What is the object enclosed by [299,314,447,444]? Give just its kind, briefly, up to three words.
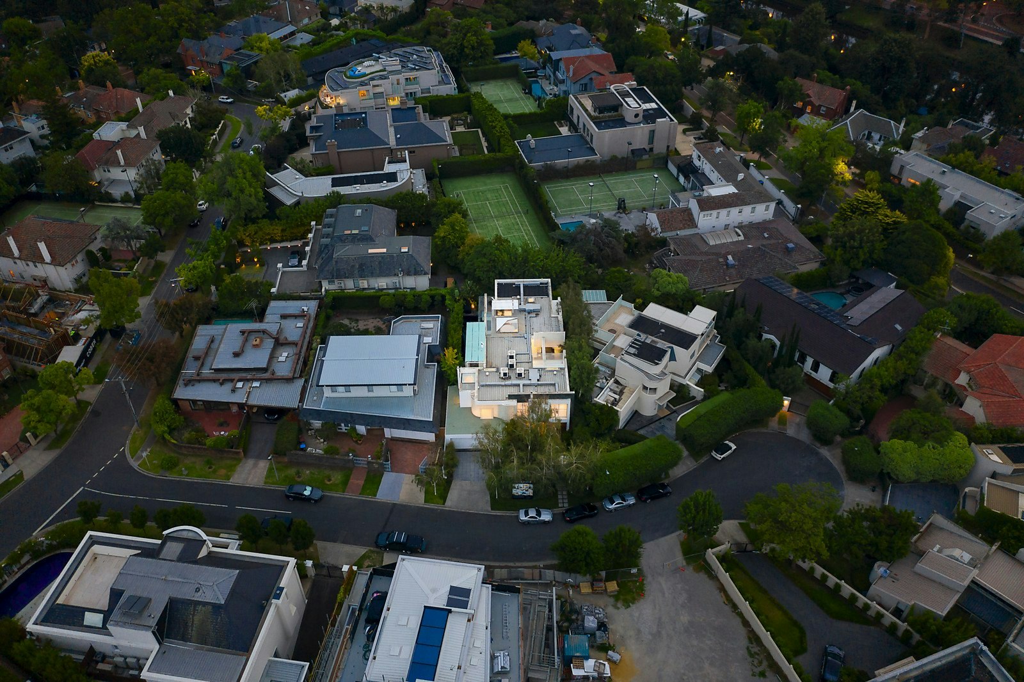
house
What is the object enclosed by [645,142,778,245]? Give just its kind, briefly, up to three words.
house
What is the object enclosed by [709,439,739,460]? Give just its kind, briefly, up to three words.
car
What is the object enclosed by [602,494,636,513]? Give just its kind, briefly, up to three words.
car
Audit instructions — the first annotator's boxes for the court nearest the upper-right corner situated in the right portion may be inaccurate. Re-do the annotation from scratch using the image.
[548,165,688,218]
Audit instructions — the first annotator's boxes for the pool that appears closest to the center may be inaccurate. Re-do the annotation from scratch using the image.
[569,218,589,237]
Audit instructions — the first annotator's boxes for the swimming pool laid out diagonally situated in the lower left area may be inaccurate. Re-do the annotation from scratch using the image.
[0,547,76,623]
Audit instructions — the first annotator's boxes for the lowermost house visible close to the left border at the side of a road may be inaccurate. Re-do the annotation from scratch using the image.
[26,525,308,682]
